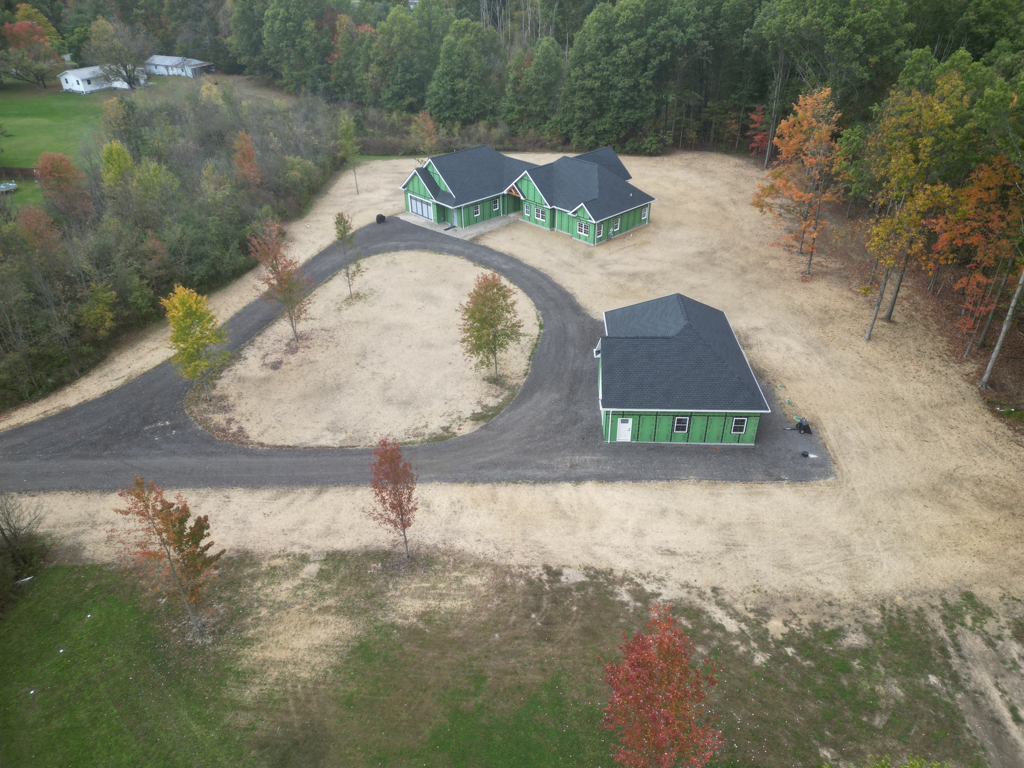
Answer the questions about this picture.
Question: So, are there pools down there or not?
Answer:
No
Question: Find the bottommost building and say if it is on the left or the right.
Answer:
right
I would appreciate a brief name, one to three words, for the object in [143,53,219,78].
barn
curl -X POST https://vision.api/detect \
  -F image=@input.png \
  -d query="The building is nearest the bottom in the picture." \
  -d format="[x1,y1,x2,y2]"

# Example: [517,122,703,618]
[596,293,771,445]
